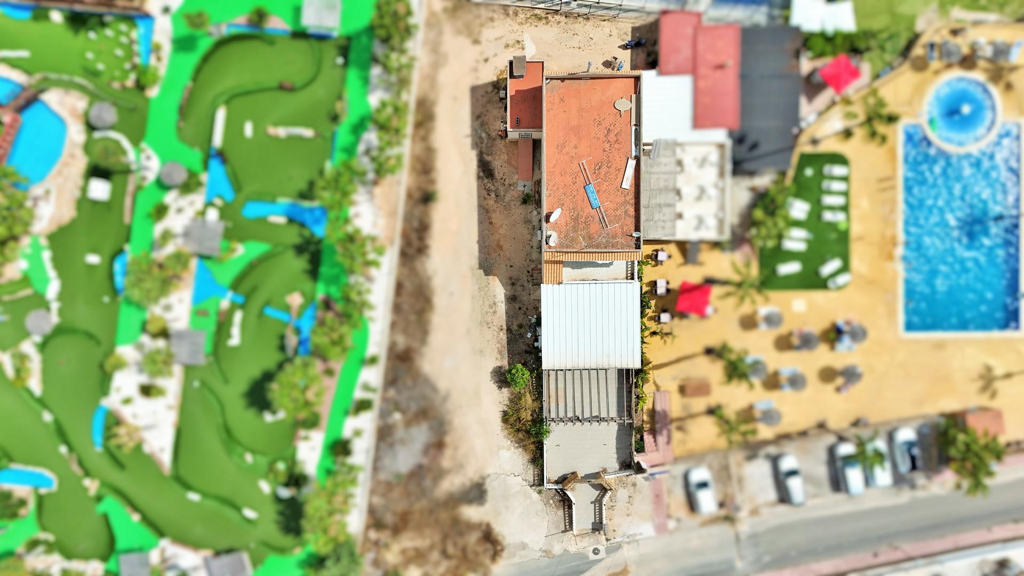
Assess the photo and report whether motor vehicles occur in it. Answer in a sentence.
Yes, looking at the shot, I can spot a motor vehicle.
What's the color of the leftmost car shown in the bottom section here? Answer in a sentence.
The color of the leftmost car shown in the bottom section is white.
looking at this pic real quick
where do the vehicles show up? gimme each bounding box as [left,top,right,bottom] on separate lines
[831,441,862,492]
[889,424,920,473]
[686,464,716,513]
[773,453,805,503]
[859,437,890,486]
[625,35,649,47]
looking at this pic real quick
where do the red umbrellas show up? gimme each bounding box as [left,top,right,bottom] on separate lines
[676,282,712,317]
[818,53,861,95]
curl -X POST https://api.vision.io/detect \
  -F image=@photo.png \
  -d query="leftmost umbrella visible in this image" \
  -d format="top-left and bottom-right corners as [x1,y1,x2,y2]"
[29,308,56,336]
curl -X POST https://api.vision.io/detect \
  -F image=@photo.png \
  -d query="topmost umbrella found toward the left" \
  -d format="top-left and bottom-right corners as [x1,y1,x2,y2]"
[90,101,120,130]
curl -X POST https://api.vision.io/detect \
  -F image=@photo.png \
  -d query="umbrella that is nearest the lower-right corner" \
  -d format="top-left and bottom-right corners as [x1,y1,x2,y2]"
[838,362,862,387]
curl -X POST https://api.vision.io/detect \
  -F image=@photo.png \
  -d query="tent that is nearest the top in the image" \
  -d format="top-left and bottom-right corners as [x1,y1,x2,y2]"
[790,0,857,39]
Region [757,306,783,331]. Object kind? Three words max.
umbrella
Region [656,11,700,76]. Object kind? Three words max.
shed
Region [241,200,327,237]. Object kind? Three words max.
pond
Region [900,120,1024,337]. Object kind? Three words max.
swimming pool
